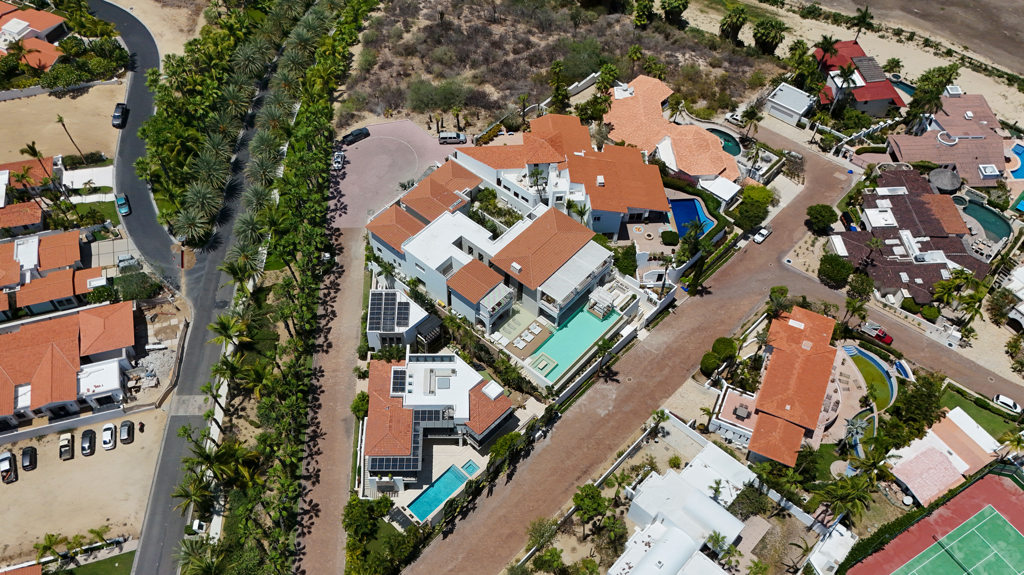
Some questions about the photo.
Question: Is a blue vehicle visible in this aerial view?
Yes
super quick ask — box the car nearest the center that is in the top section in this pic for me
[440,132,466,144]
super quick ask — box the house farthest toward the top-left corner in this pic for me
[0,2,67,76]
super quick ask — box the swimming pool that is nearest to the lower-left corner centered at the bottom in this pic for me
[407,461,471,524]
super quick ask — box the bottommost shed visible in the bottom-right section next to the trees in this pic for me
[807,523,858,575]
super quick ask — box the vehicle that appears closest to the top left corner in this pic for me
[112,106,127,125]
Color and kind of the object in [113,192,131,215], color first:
blue vehicle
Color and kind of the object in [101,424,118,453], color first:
white car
